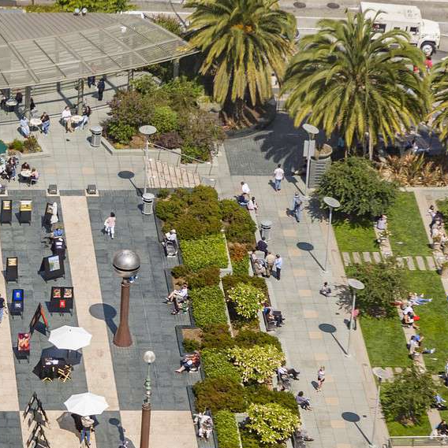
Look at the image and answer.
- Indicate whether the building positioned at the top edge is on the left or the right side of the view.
left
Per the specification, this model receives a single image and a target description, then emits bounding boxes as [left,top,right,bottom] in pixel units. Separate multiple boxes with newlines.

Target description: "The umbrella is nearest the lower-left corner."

[64,394,109,425]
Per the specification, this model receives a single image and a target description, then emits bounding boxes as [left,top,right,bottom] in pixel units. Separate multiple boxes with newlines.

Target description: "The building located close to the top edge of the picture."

[0,6,197,120]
